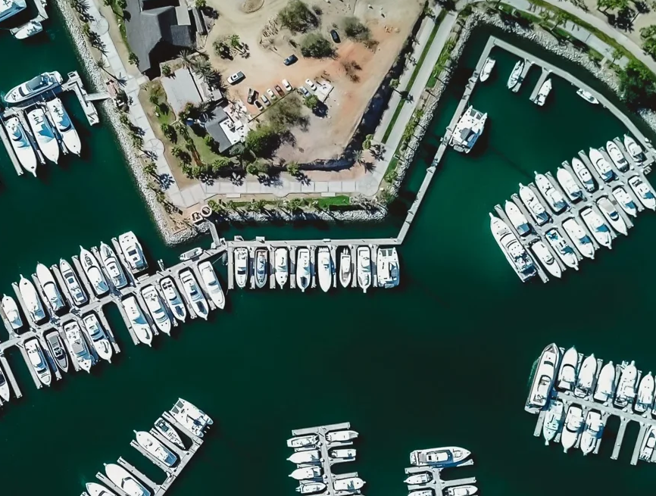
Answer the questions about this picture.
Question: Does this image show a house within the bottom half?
No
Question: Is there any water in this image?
Yes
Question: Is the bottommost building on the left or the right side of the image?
left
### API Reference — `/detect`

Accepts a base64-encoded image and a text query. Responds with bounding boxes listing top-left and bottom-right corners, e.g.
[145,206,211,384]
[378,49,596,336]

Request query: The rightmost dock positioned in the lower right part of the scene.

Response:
[534,347,656,464]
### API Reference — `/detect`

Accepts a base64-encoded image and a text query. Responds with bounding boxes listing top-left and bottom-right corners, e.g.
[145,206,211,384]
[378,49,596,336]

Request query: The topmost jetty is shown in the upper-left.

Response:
[12,0,47,32]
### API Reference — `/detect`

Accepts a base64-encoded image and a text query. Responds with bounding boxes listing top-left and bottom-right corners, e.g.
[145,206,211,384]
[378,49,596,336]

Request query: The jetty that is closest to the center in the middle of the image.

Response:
[226,238,399,288]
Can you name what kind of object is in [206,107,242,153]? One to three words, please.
building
